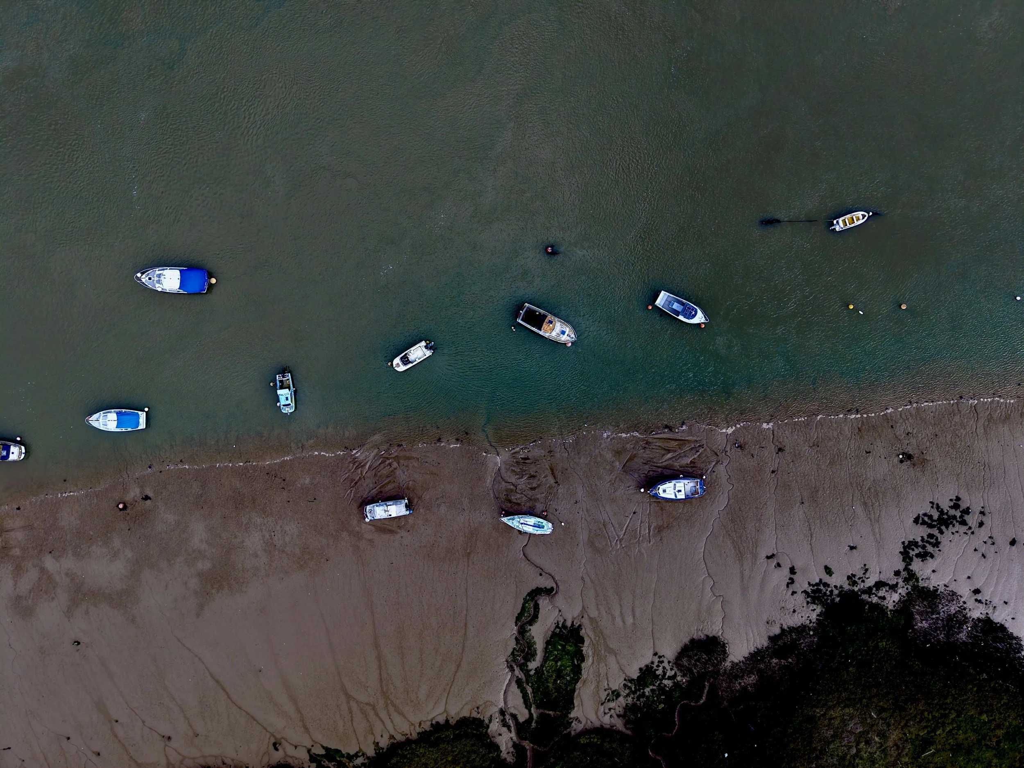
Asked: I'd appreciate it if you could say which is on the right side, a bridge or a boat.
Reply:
boat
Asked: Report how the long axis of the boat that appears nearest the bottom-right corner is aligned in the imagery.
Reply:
from left to right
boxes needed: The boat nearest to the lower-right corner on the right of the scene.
[648,478,707,501]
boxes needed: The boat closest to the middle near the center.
[516,303,577,343]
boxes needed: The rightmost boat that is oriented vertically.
[276,366,295,415]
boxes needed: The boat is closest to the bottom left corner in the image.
[0,440,27,461]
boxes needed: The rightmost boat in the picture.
[828,211,869,231]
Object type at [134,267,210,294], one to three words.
boat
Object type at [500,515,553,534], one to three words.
boat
